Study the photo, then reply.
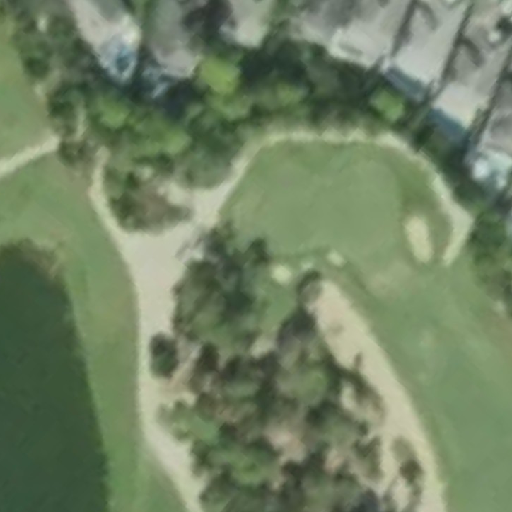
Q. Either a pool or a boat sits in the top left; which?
pool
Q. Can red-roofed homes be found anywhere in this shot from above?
No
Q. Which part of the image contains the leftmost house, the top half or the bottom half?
top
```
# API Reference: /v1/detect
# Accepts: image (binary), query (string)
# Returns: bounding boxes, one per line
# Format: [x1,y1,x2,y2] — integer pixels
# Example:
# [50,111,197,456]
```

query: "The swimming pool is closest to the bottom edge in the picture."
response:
[473,153,512,190]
